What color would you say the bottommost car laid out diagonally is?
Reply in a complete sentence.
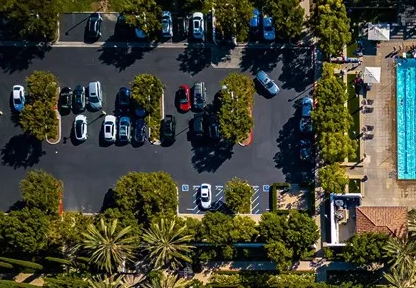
The bottommost car laid out diagonally looks blue in the image.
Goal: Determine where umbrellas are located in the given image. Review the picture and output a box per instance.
[368,21,390,43]
[364,67,381,84]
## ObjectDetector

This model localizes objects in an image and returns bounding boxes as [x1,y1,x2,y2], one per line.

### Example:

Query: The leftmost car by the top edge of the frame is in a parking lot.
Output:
[85,10,101,38]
